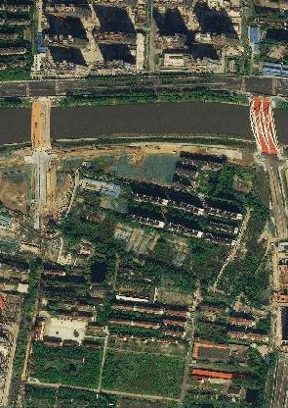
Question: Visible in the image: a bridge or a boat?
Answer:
bridge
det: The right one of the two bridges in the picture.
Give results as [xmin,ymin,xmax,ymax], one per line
[251,95,283,157]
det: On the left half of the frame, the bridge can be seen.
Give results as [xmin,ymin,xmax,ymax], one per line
[31,96,51,152]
